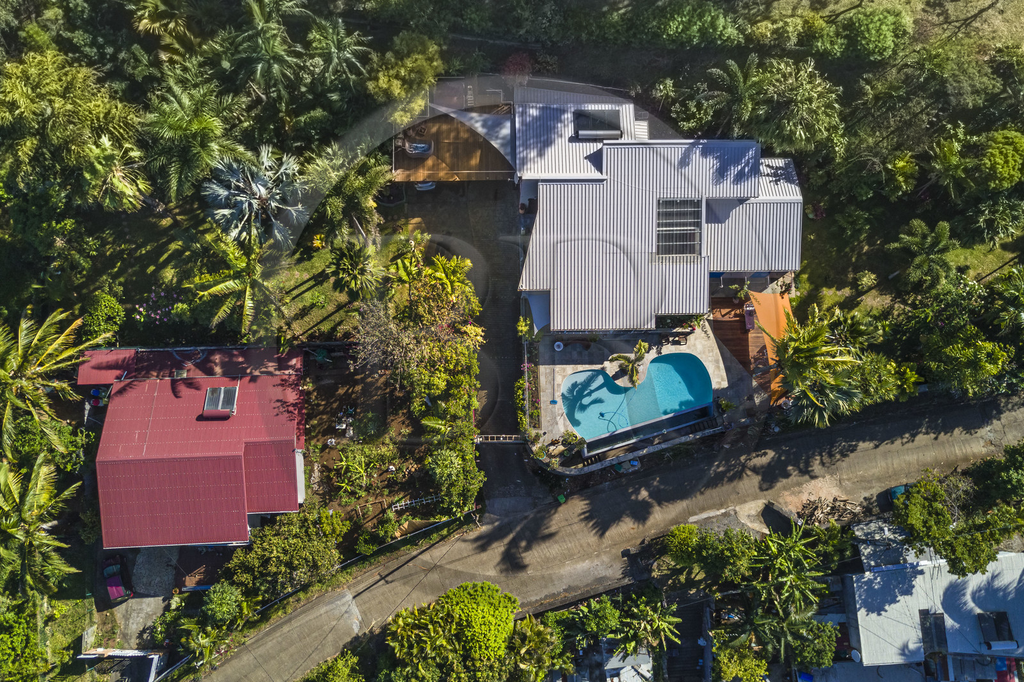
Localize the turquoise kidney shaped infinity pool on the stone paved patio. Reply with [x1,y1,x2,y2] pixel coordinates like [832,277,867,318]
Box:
[560,352,714,457]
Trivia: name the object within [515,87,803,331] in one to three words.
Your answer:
house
